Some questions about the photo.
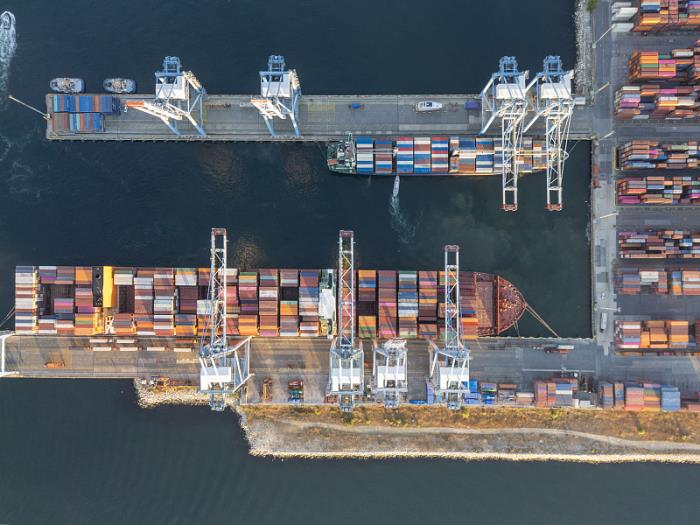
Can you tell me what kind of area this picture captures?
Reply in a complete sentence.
This looks like a port.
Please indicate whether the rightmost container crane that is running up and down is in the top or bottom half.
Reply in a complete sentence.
You can find the rightmost container crane that is running up and down in the top half.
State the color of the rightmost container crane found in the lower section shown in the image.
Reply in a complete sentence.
From above, the rightmost container crane found in the lower section appears white.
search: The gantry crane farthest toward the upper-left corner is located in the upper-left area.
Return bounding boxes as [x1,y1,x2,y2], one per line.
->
[124,55,209,137]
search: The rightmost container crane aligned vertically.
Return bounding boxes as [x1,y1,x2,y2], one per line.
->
[515,55,576,214]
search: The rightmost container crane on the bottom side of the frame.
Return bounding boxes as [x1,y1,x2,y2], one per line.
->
[417,245,469,414]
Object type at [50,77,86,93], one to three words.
boat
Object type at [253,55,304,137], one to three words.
container crane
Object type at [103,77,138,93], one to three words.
boat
